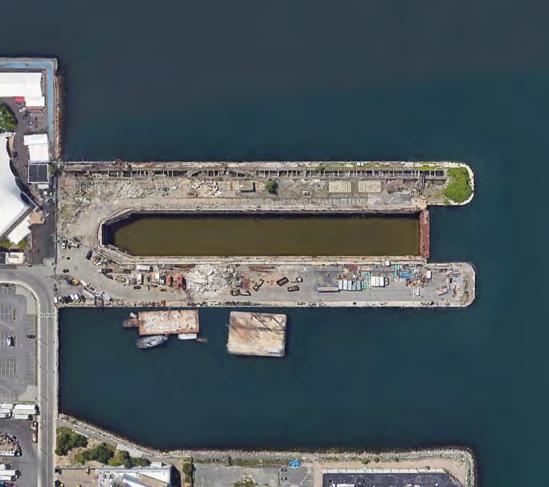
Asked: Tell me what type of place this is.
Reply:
port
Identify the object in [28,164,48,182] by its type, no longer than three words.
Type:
building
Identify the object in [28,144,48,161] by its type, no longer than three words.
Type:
shed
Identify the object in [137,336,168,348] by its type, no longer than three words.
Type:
boat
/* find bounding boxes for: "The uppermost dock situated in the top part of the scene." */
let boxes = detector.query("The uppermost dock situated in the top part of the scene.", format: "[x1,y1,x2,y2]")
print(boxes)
[58,161,473,220]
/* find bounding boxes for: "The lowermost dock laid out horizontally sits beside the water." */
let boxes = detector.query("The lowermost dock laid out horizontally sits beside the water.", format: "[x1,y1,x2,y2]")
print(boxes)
[60,246,476,308]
